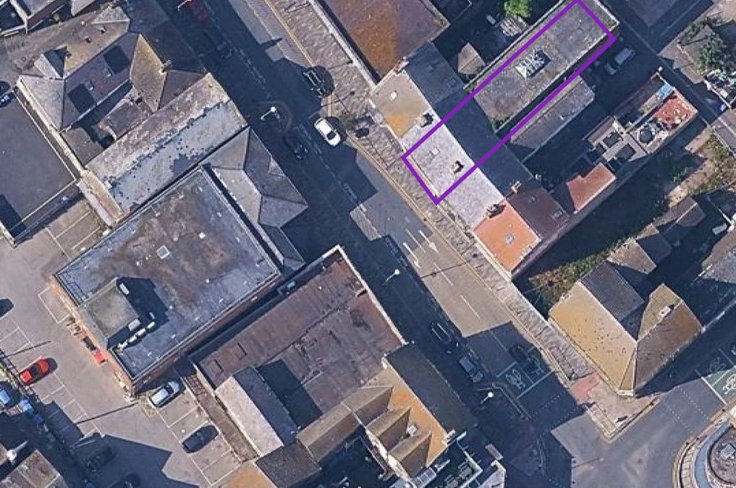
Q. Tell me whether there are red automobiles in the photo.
Yes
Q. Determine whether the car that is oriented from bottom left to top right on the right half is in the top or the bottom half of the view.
top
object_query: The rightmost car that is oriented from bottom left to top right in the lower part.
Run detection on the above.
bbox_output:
[180,422,218,454]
